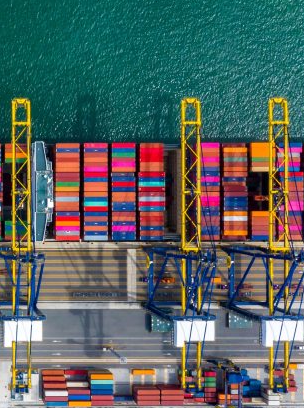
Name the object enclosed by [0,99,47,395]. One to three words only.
container crane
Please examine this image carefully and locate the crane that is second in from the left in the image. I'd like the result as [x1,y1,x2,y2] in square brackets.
[136,99,220,395]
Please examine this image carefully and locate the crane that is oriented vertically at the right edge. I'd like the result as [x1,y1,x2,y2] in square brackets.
[213,99,304,395]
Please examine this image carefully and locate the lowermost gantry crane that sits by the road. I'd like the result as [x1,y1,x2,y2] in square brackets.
[203,361,243,408]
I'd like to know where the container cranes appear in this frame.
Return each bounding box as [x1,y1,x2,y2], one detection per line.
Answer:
[203,361,243,408]
[0,99,47,395]
[213,99,304,395]
[136,99,220,395]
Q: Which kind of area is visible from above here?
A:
port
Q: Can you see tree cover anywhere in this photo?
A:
No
